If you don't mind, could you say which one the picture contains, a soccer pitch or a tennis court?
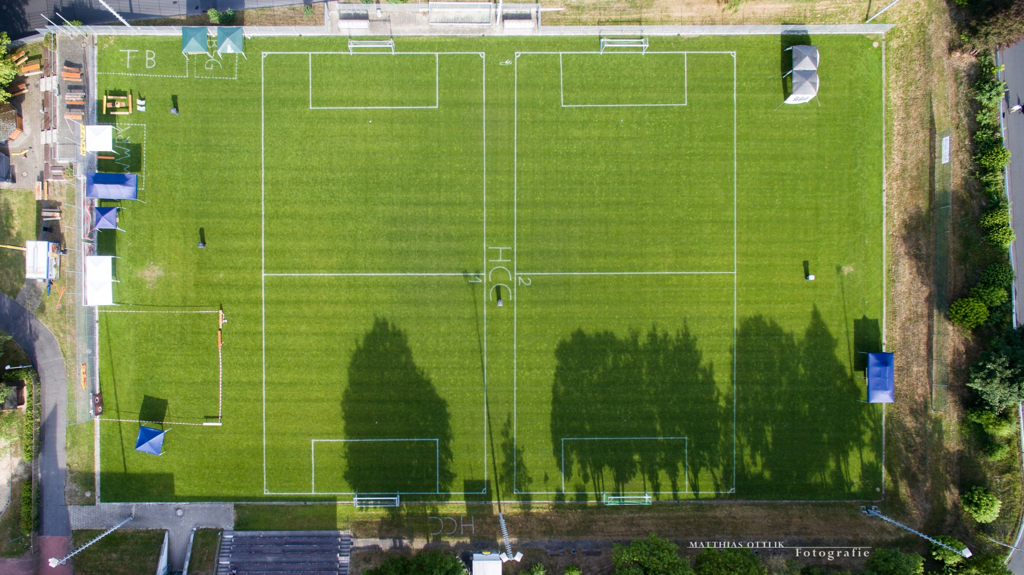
soccer pitch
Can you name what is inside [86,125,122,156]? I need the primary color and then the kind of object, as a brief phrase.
white tent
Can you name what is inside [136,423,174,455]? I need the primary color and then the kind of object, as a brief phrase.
blue tent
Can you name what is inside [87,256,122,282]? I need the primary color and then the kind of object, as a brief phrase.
white tent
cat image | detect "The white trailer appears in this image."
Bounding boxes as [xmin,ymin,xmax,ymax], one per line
[26,241,62,292]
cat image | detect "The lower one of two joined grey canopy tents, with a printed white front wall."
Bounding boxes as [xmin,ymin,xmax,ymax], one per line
[780,70,821,106]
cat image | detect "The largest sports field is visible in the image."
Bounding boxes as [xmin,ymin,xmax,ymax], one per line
[95,33,885,535]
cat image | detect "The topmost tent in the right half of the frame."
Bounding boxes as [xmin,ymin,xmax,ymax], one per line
[782,45,820,77]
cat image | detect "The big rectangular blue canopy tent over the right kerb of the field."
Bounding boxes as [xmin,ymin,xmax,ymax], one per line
[856,352,894,403]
